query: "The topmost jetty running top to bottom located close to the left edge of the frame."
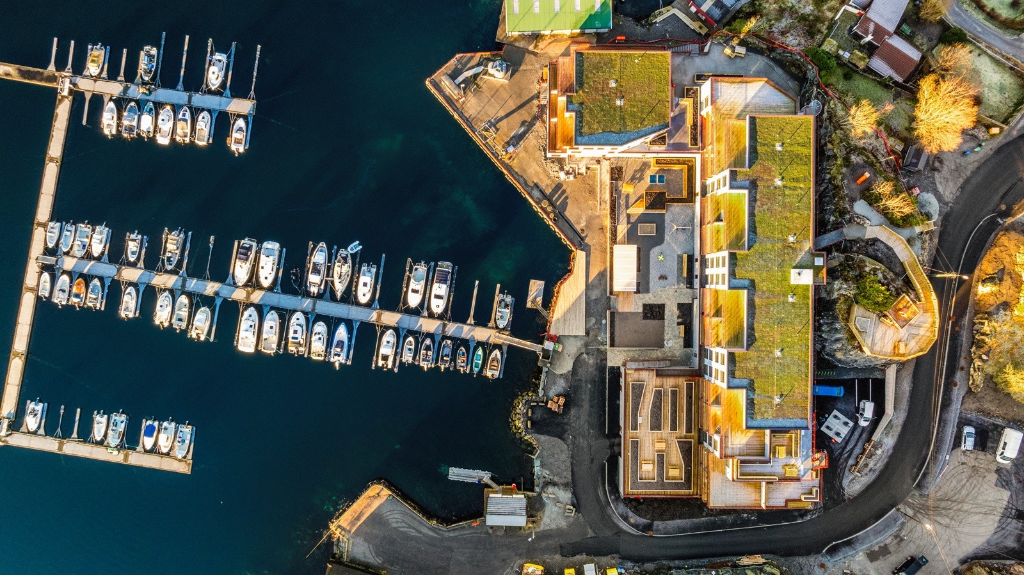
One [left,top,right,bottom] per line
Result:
[0,94,75,419]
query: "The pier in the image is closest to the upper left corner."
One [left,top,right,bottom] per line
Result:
[0,62,64,89]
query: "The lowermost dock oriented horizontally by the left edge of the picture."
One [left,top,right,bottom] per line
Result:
[3,430,194,474]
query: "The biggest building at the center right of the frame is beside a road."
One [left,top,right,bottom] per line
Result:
[696,76,827,510]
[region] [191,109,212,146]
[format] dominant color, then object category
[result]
white boat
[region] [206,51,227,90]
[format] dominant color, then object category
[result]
white boat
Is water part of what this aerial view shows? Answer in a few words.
Yes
